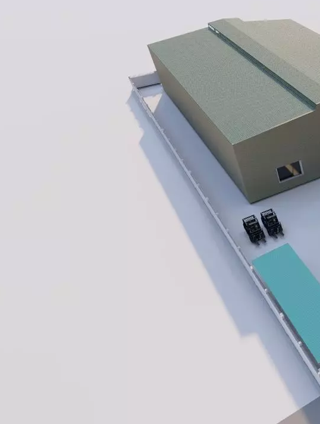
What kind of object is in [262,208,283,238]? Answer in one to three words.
work vehicle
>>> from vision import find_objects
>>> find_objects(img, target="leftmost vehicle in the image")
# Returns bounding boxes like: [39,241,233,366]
[244,214,265,244]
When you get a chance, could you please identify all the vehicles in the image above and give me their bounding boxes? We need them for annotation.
[262,208,283,238]
[244,214,265,244]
